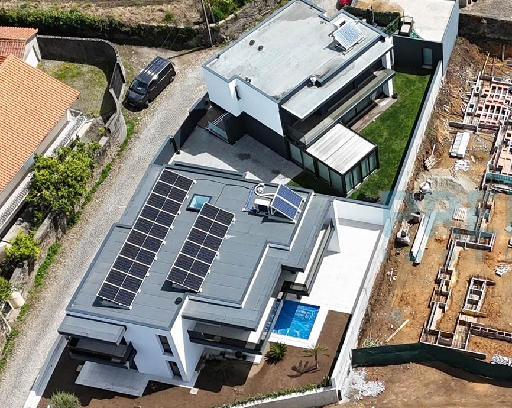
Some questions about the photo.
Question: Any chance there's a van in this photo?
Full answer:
Yes, the frame does contain a van.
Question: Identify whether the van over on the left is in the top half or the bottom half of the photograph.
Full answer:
You can find the van over on the left in the top half.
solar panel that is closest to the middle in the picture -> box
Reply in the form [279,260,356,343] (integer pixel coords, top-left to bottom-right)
[270,184,305,223]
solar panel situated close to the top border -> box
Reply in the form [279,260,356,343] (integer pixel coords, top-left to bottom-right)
[334,19,365,52]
